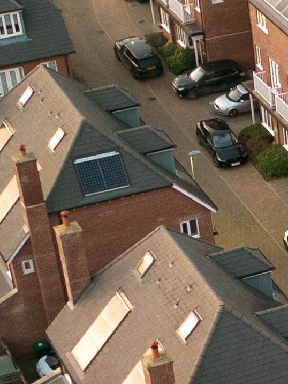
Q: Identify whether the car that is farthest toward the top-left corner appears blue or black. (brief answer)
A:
black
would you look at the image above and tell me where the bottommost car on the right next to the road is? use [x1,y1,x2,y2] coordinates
[197,119,249,166]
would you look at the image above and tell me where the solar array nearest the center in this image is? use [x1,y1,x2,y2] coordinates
[74,150,135,202]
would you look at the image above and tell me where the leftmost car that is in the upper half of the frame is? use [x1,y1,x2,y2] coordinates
[114,43,167,79]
